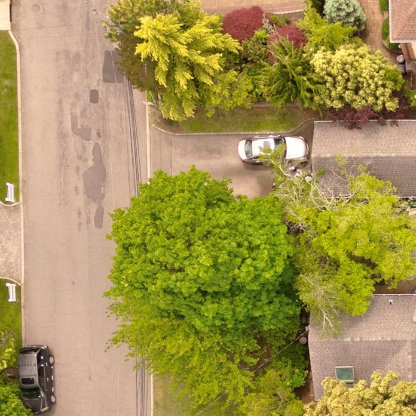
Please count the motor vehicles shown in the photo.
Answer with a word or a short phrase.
two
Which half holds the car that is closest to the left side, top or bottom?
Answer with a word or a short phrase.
bottom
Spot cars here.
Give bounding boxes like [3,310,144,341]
[238,134,310,166]
[19,345,57,412]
